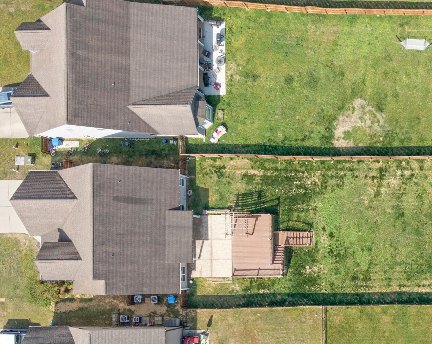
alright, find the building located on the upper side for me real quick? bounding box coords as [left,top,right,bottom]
[10,0,212,142]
